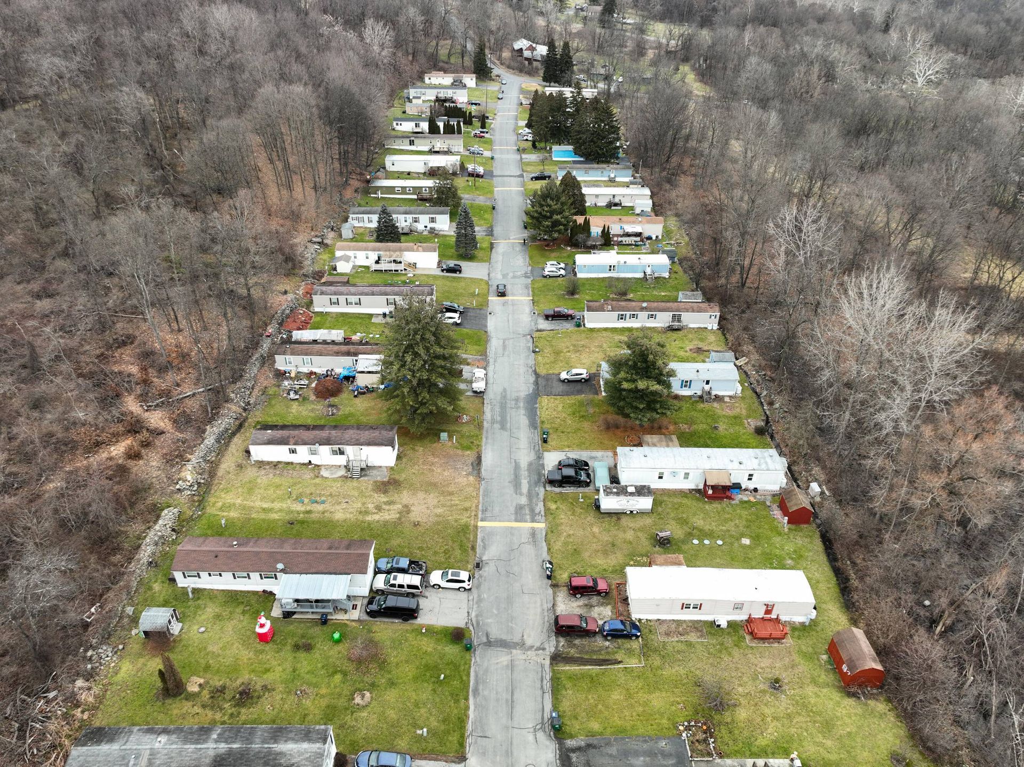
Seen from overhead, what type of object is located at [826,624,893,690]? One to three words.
shed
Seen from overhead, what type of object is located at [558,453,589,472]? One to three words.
car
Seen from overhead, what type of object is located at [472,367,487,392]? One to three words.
vehicle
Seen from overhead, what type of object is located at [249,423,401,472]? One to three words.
house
